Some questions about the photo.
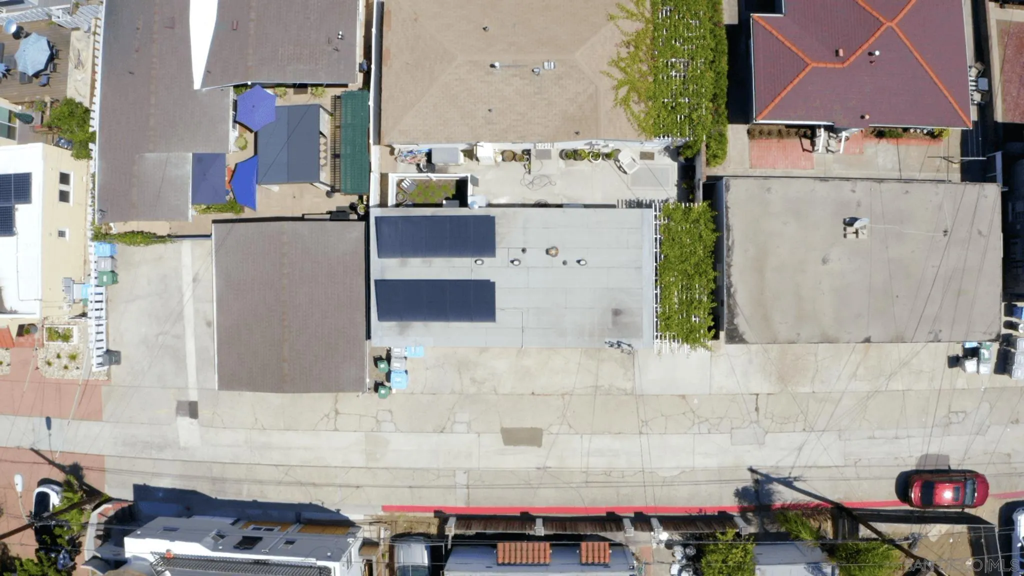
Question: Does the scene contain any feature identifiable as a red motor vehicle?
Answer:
Yes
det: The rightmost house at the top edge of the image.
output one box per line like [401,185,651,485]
[743,0,974,130]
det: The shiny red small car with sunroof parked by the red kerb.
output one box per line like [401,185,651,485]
[903,470,989,514]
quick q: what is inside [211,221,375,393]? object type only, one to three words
building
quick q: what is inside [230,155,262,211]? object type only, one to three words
umbrella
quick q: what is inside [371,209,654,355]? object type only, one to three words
building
